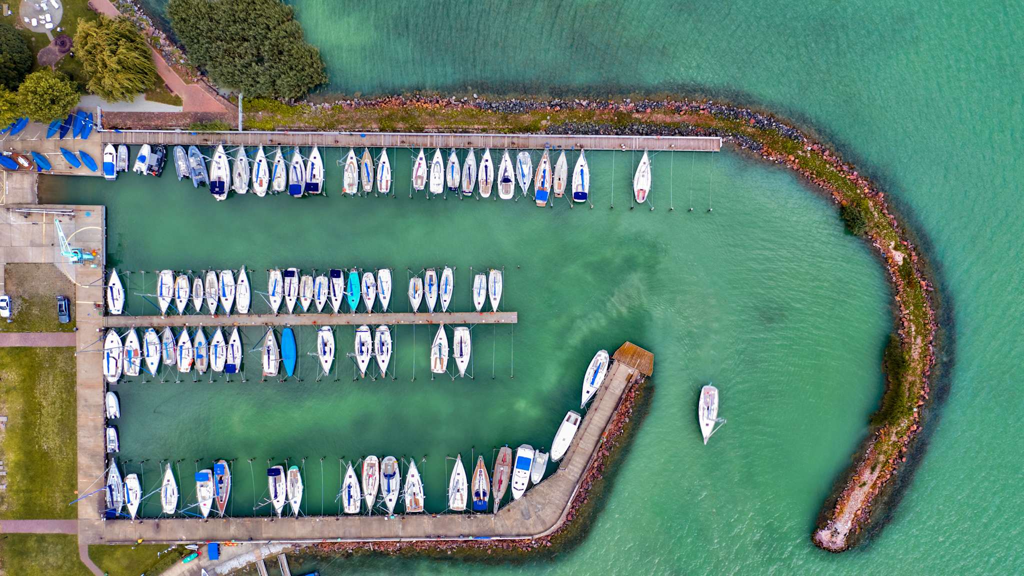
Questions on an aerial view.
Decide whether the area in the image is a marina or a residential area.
marina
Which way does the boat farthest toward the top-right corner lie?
vertically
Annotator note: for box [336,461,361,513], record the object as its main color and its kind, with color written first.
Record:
white boat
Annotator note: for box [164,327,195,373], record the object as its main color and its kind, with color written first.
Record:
white boat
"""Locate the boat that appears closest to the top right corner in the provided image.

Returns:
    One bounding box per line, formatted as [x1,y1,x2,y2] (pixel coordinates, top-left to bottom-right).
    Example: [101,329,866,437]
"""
[633,149,657,204]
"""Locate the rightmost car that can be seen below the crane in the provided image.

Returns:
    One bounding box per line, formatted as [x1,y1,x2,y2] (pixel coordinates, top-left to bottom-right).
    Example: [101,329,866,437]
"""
[56,294,71,323]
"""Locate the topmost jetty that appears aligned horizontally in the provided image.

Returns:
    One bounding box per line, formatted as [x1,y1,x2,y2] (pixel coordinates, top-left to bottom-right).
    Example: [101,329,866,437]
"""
[99,130,722,152]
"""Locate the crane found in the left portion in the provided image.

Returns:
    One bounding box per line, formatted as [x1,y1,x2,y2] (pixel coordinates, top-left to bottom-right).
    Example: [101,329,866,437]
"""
[54,218,98,263]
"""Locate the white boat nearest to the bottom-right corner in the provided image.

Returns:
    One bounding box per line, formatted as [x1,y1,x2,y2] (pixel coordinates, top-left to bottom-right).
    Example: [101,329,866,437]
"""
[696,385,724,446]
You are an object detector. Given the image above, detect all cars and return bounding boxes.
[0,295,12,318]
[56,294,71,323]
